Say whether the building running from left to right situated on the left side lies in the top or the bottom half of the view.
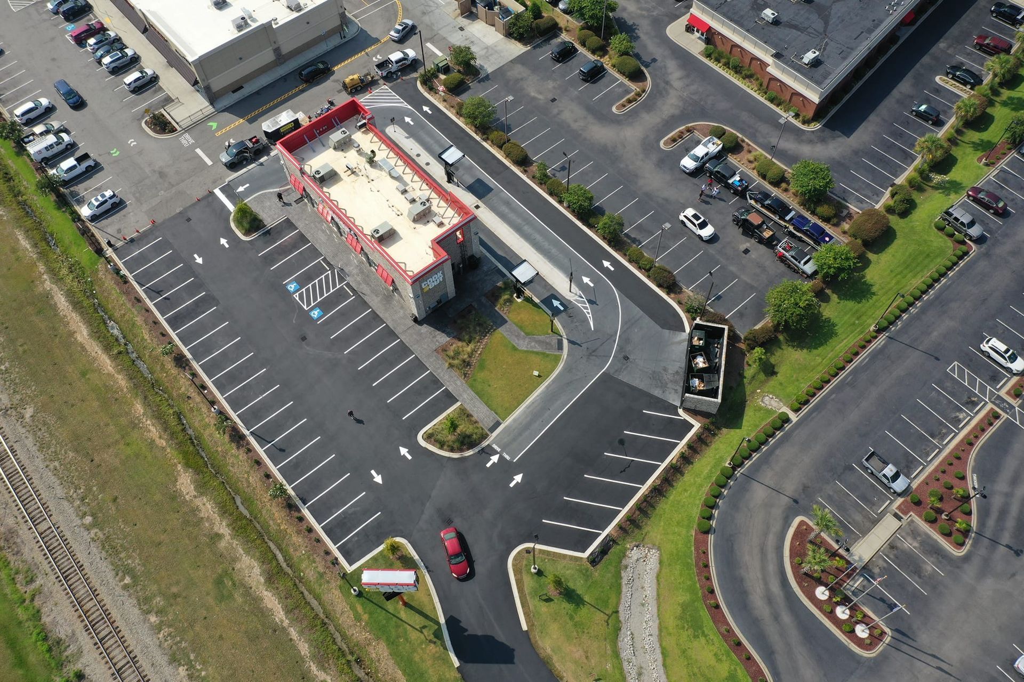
top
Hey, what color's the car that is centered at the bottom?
red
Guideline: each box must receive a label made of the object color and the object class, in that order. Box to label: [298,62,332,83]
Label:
black car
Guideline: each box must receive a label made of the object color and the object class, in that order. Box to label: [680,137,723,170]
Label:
white truck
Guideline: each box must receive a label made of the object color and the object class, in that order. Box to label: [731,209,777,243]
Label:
black truck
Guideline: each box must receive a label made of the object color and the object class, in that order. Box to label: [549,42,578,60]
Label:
black car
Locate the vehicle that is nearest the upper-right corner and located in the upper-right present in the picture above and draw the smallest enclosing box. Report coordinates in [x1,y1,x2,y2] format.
[990,4,1024,27]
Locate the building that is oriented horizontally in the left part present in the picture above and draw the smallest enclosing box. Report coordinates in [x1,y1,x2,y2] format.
[107,0,366,107]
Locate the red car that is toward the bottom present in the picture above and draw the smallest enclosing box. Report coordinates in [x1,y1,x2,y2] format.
[441,525,469,580]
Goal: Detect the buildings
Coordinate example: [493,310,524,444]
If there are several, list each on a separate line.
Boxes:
[276,101,480,321]
[680,0,927,118]
[107,0,366,107]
